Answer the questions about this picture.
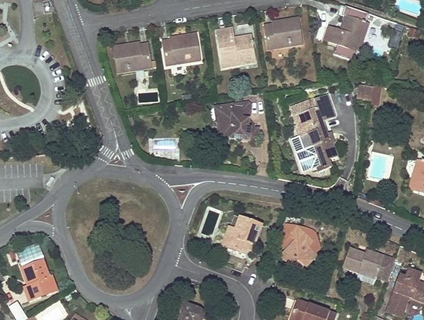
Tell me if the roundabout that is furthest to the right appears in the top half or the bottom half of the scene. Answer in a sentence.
It is in the bottom half that the roundabout that is furthest to the right appears.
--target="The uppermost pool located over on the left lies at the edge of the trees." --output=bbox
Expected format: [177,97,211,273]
[138,92,159,104]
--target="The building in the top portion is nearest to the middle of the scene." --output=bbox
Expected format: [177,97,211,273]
[213,100,254,140]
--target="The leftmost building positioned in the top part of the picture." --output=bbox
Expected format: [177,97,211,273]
[112,41,154,76]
